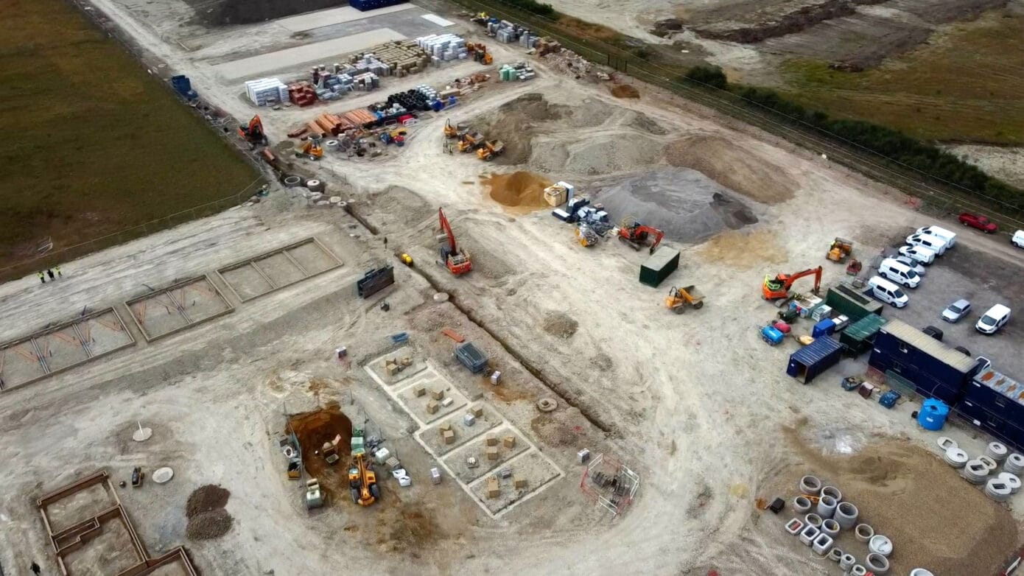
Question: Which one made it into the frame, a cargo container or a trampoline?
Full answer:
Visible in the photo is a cargo container.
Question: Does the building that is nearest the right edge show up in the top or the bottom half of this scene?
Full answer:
The building that is nearest the right edge is in the bottom half of the image.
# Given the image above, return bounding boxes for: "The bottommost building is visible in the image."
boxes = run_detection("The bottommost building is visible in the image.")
[964,370,1024,452]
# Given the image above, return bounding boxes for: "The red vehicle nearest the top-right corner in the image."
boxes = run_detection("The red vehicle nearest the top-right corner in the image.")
[958,214,1000,234]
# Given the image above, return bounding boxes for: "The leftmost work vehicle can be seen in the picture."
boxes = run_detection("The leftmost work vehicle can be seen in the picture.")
[239,113,267,144]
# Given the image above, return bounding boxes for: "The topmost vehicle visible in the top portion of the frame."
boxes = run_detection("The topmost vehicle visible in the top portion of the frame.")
[469,41,490,60]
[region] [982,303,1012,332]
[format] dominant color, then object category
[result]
white van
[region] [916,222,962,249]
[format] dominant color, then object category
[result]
white vehicle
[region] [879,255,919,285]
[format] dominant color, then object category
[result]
white van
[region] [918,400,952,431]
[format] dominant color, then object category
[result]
blue water tank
